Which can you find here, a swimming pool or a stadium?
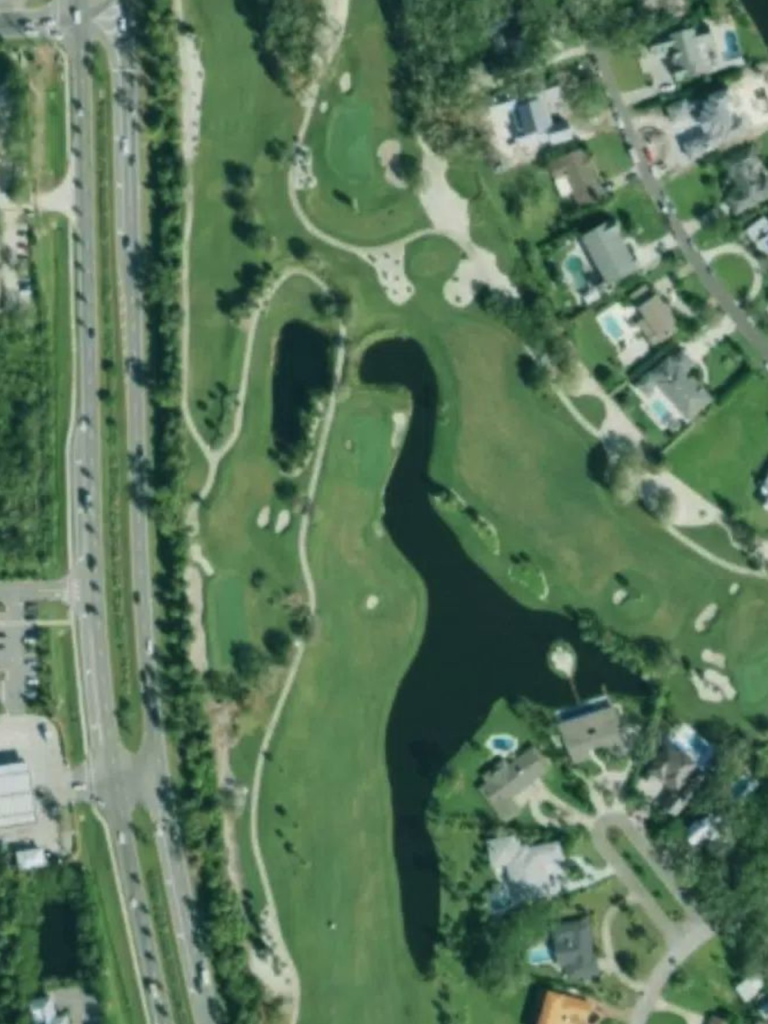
swimming pool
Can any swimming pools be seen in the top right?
Yes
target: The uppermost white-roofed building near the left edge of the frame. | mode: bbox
[0,764,35,825]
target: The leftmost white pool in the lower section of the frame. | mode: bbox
[486,733,519,756]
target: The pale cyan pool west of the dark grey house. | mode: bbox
[525,942,556,969]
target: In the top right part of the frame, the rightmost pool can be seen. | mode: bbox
[708,17,745,67]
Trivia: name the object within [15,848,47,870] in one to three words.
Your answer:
shed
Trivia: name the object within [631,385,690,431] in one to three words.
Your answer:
swimming pool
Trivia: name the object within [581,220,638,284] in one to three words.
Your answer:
house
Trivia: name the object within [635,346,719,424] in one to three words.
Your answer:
house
